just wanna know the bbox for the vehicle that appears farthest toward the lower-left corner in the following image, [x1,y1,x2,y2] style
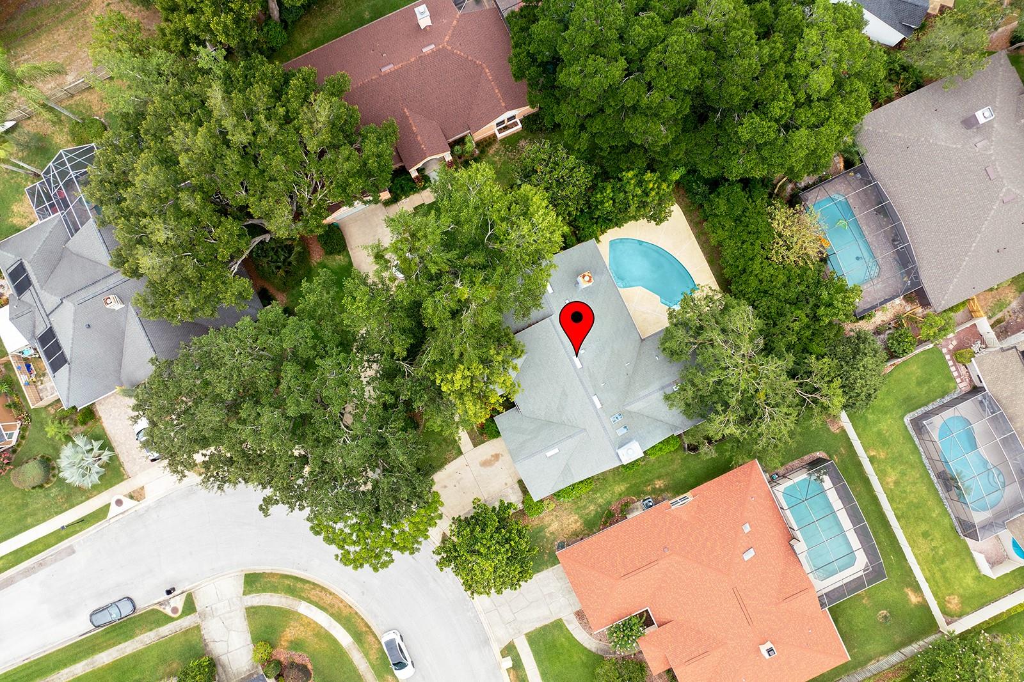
[83,597,135,632]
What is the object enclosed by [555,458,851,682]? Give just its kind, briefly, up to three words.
house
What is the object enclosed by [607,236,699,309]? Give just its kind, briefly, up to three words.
swimming pool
